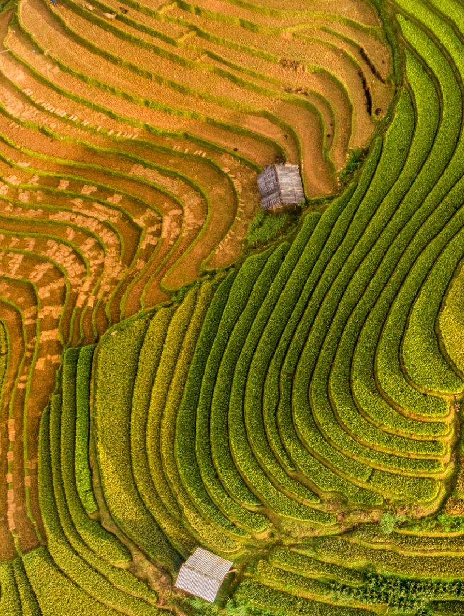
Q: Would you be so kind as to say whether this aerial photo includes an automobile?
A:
No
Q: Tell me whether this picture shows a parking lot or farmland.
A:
farmland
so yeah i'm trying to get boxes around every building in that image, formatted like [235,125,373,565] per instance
[258,166,309,212]
[178,547,230,602]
